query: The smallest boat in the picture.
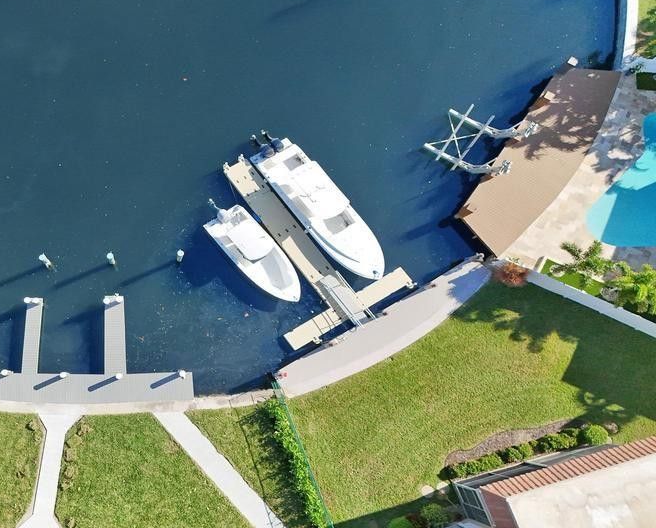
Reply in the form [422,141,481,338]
[204,194,302,304]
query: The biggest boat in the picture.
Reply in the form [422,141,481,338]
[245,128,387,280]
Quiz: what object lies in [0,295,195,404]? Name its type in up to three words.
pier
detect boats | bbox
[245,128,387,280]
[204,194,302,304]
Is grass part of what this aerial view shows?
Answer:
Yes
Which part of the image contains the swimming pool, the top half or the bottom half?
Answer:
top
